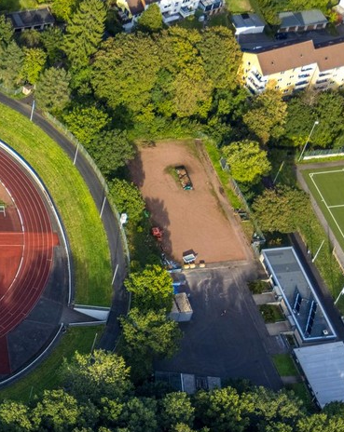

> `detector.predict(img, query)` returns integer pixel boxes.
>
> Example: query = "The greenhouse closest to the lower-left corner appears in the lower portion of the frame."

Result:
[153,369,181,397]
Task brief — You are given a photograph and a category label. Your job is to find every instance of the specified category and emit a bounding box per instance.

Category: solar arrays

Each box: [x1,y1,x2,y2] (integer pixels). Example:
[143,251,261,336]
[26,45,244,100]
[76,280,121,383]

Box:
[294,296,306,313]
[306,301,320,329]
